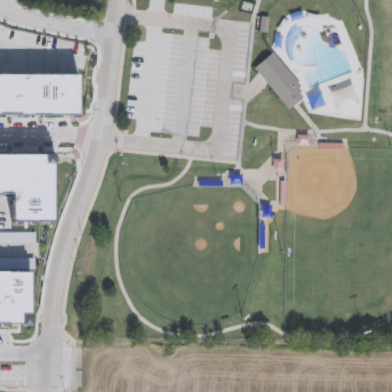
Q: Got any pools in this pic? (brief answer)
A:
Yes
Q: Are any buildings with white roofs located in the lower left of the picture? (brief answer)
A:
Yes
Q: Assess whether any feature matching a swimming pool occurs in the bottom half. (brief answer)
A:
No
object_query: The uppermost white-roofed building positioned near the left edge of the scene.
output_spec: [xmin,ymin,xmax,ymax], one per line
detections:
[0,73,82,117]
